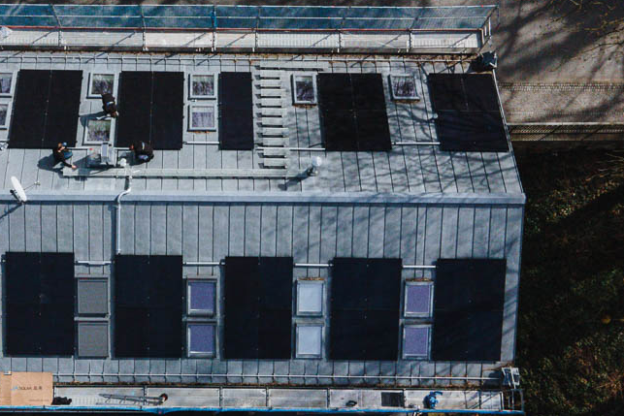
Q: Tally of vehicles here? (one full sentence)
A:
I count no vehicles.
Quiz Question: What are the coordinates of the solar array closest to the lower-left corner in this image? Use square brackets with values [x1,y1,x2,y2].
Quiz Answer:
[6,252,75,356]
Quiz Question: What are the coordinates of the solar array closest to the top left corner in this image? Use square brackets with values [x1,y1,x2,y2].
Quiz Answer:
[9,70,85,149]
